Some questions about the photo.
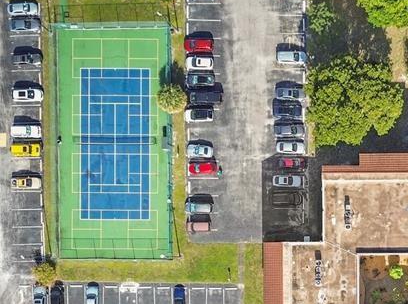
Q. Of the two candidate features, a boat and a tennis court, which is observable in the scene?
tennis court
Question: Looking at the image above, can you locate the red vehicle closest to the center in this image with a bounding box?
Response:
[187,161,216,175]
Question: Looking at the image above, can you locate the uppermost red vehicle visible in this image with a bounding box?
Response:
[183,38,213,53]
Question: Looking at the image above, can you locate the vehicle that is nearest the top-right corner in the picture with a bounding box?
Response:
[275,49,307,64]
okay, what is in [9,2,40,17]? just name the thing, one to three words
car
